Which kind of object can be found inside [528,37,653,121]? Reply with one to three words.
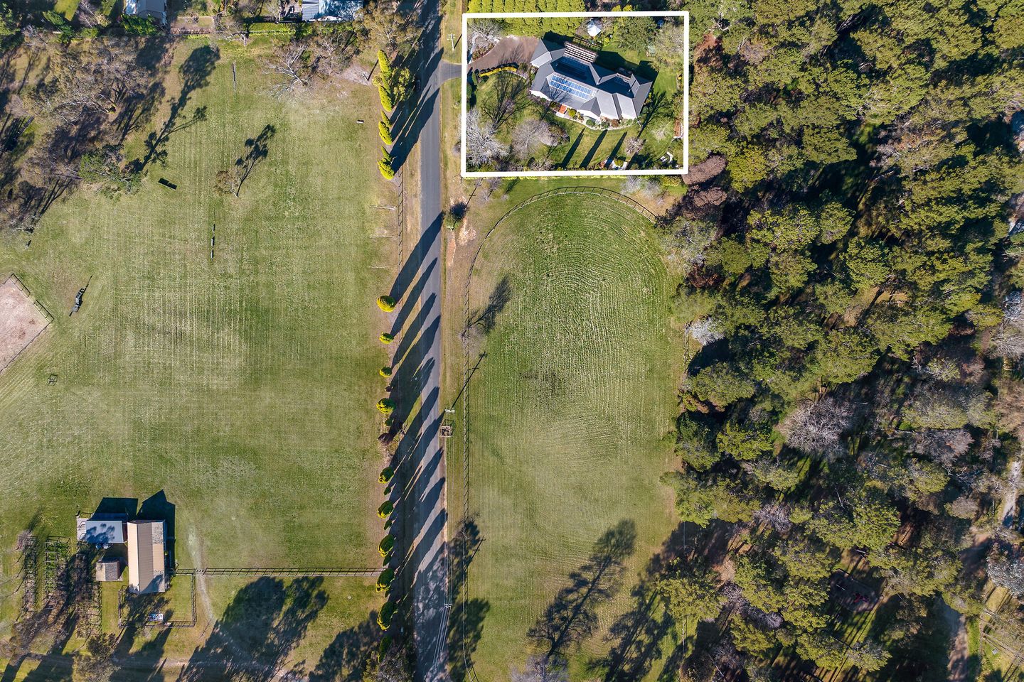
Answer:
house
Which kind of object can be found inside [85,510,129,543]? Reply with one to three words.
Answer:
shed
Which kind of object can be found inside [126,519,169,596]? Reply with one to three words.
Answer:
barn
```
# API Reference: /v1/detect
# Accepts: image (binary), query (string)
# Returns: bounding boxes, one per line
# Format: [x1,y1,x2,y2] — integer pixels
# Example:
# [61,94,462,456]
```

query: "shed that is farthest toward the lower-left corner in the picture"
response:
[95,561,124,582]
